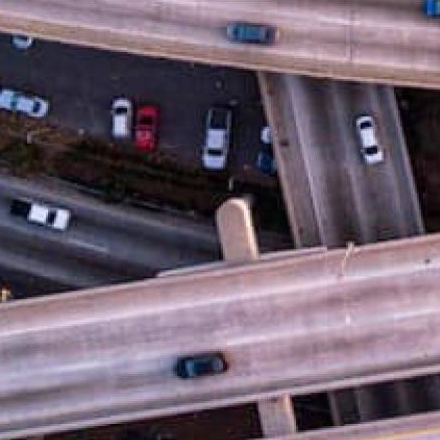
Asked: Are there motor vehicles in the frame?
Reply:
Yes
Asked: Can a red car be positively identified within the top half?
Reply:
Yes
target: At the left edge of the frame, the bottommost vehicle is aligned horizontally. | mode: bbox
[10,199,71,230]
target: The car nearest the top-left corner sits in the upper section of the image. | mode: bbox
[10,32,35,48]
